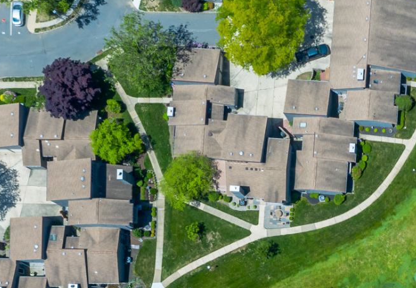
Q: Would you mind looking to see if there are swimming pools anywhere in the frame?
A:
No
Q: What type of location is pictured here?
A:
residential area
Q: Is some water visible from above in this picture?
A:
No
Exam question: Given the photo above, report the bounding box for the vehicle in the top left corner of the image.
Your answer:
[12,1,26,28]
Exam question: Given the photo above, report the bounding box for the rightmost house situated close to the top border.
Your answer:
[329,0,416,98]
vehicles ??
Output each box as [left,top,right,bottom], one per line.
[295,45,331,63]
[12,1,26,28]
